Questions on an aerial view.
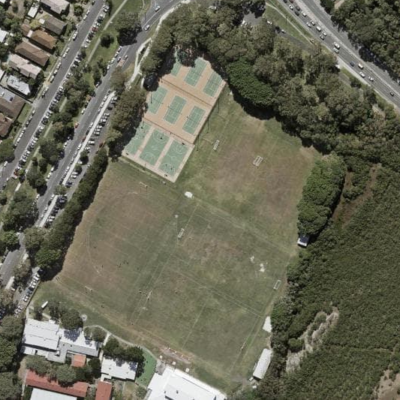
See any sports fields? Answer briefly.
Yes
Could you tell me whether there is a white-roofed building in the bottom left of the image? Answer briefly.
Yes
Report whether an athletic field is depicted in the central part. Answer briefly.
Yes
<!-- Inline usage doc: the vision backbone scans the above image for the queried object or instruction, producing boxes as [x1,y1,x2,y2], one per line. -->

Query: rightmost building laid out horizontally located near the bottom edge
[148,366,226,400]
